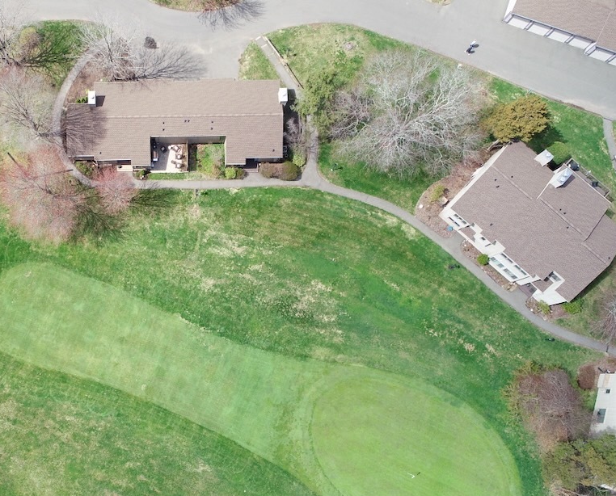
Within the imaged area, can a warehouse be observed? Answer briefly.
No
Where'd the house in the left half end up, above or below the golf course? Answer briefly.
above it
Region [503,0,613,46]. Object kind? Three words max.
building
